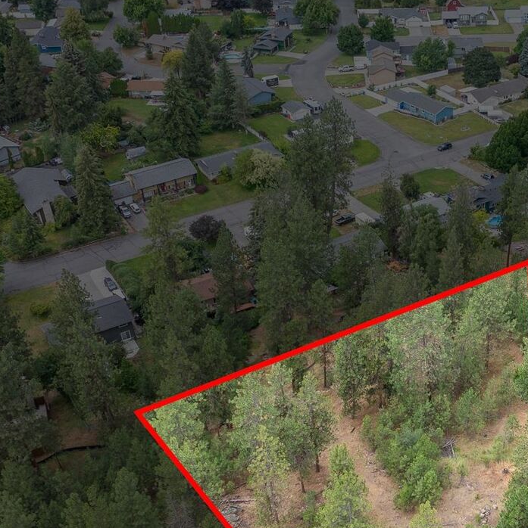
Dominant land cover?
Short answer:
trees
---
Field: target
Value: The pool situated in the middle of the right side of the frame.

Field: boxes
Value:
[485,210,504,227]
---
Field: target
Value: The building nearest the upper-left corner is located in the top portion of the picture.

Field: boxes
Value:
[9,12,47,39]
